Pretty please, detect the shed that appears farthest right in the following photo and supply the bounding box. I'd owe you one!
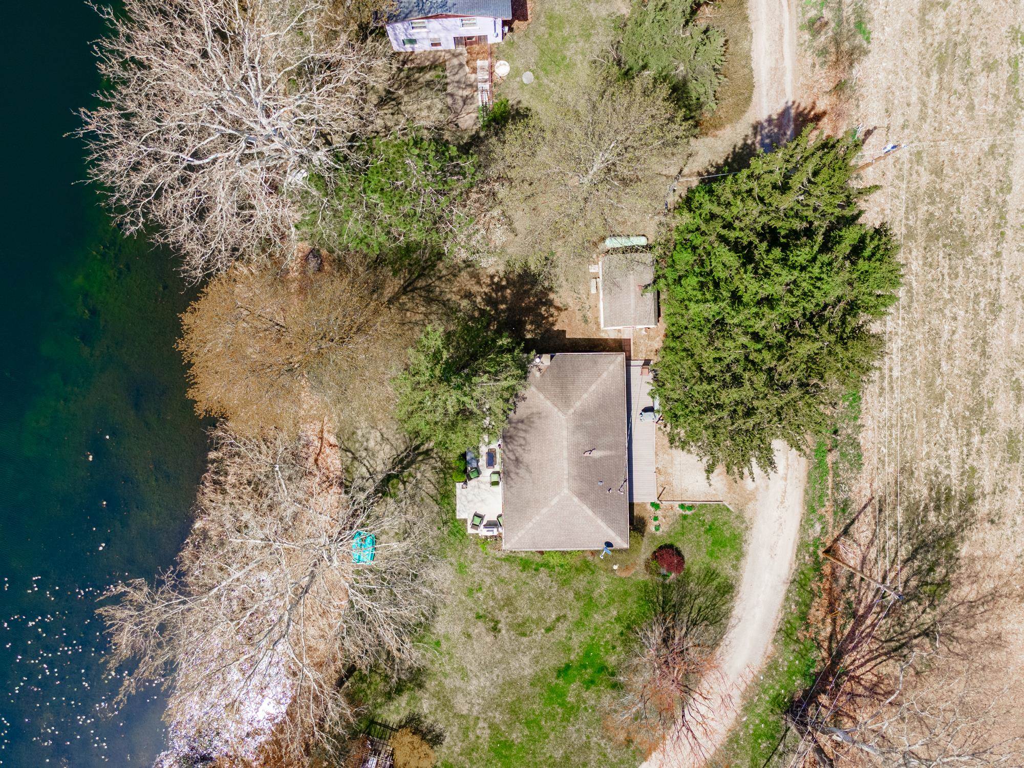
[599,252,657,326]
